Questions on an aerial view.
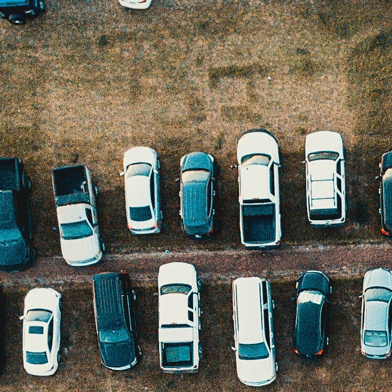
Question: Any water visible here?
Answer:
No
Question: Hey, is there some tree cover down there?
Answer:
No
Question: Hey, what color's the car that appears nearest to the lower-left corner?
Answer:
white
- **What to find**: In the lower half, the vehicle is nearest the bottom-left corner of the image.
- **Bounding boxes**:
[17,288,65,375]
